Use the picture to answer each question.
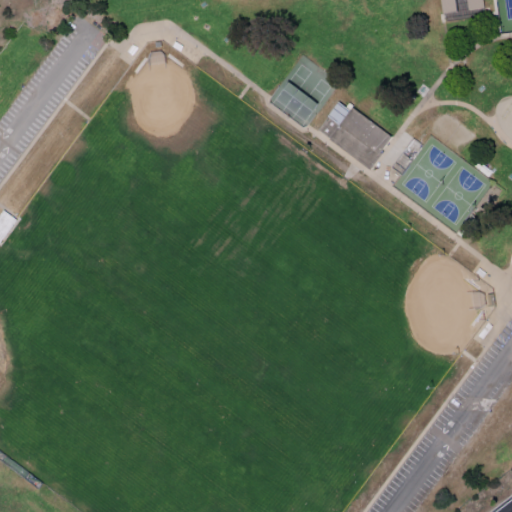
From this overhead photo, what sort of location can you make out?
sports ground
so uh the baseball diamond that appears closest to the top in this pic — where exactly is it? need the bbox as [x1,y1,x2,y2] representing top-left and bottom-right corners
[127,51,195,137]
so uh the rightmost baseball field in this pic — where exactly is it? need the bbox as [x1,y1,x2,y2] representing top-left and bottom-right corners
[406,254,488,354]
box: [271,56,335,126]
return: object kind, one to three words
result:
sports court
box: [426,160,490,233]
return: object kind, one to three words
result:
basketball court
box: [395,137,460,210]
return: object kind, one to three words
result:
basketball court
